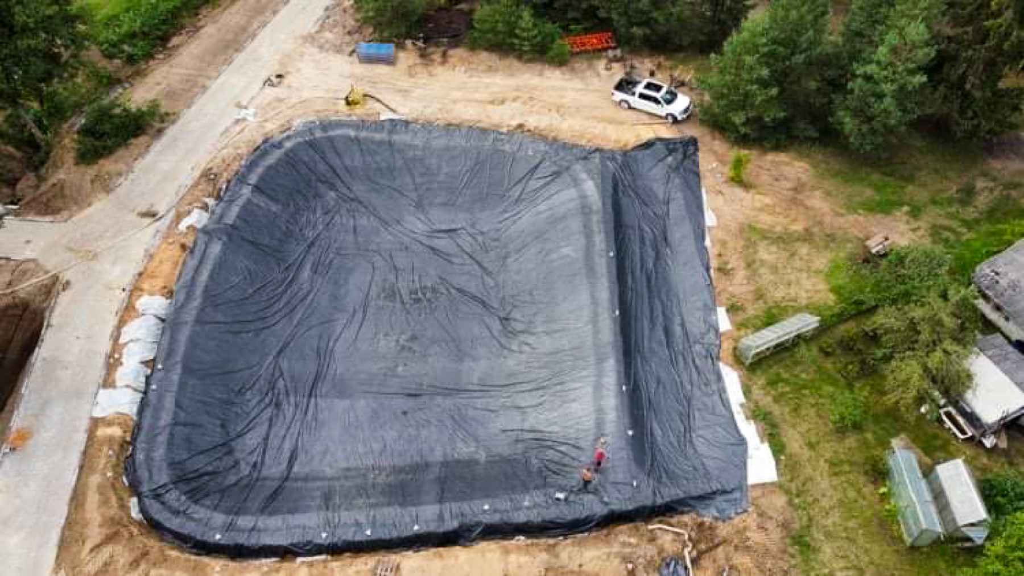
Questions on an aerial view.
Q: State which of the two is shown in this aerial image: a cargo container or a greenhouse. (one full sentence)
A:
Looking from above, you can make out a greenhouse.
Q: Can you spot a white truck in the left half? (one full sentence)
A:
No, no white truck can be made out in the left half.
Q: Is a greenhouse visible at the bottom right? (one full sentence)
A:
Yes, a greenhouse appears at the bottom right.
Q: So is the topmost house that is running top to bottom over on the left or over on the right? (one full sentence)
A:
The topmost house that is running top to bottom sits on the right side.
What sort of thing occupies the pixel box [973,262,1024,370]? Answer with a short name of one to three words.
house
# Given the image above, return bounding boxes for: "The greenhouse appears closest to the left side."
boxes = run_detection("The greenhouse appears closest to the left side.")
[742,314,823,370]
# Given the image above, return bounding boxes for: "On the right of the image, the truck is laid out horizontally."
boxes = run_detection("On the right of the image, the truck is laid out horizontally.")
[608,77,700,124]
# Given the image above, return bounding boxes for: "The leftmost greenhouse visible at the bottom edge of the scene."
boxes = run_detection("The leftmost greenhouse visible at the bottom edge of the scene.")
[871,443,945,549]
